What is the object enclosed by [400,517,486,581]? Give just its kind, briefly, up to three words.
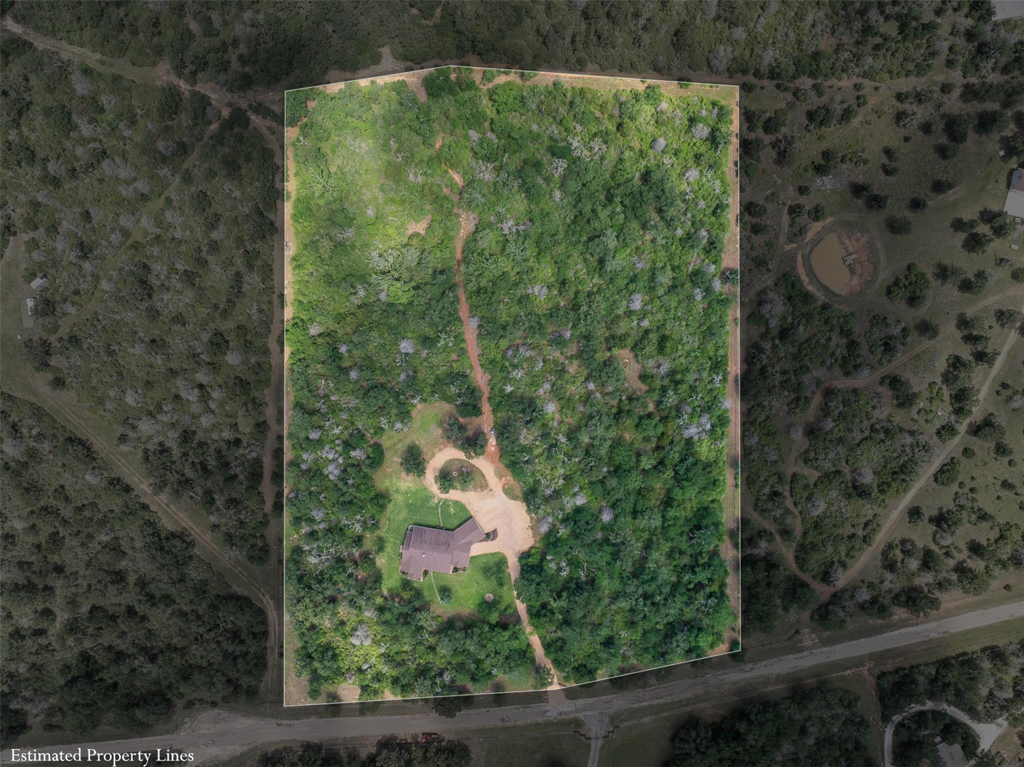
house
